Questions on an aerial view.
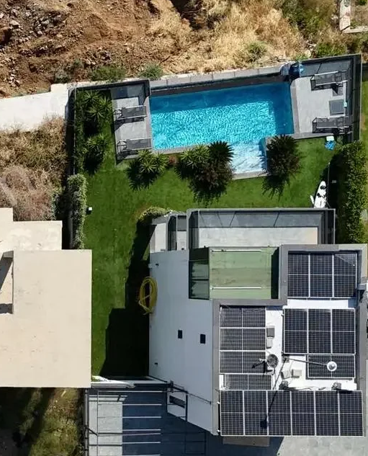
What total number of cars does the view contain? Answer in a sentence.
The picture shows no cars.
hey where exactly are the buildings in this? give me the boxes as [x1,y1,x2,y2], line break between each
[143,208,367,446]
[0,207,91,387]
